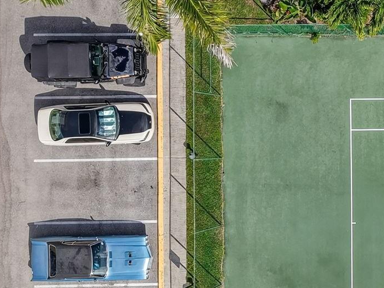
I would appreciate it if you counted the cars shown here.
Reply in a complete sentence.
I count 3 cars.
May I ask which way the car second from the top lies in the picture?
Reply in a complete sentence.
The car second from the top has been laid out from left to right relative to the frame.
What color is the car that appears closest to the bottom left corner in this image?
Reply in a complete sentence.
In this view, the car that appears closest to the bottom left corner is blue.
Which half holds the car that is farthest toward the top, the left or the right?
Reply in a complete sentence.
The car that is farthest toward the top appears in the left half of the scene.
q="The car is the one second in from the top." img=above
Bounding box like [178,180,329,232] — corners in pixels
[35,95,156,150]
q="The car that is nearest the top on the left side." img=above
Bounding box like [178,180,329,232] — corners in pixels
[22,38,146,86]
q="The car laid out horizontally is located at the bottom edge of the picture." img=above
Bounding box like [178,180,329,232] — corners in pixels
[30,233,158,286]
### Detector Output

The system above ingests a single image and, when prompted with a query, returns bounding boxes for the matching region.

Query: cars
[30,233,158,286]
[22,38,146,86]
[35,95,156,150]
